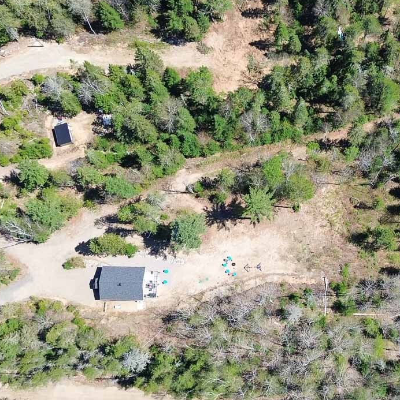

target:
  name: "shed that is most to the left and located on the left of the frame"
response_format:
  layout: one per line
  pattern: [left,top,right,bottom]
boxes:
[55,124,75,151]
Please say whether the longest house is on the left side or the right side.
left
